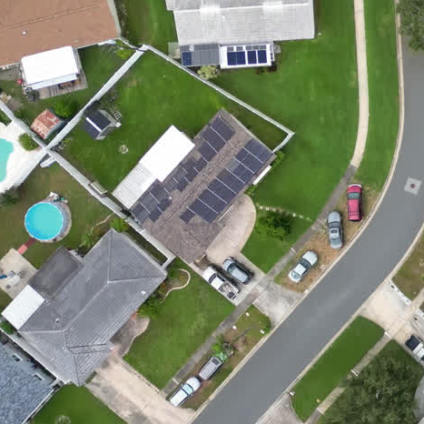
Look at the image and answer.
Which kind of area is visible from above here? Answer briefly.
residential area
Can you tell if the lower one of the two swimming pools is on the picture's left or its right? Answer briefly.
left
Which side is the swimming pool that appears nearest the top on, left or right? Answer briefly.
left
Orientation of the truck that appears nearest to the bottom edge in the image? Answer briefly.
on a diagonal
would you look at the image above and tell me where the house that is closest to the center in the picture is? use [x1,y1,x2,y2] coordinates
[113,108,277,265]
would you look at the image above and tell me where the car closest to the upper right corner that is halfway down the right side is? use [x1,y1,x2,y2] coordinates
[344,184,363,222]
